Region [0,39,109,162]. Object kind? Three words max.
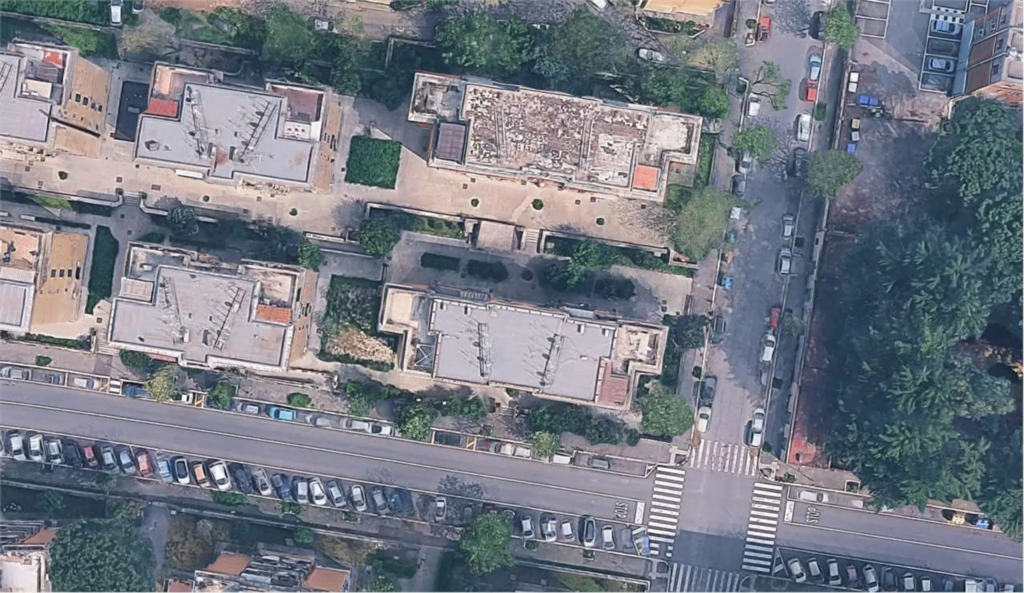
building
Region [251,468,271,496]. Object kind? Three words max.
car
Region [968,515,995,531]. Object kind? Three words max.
car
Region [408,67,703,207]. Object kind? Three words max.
building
